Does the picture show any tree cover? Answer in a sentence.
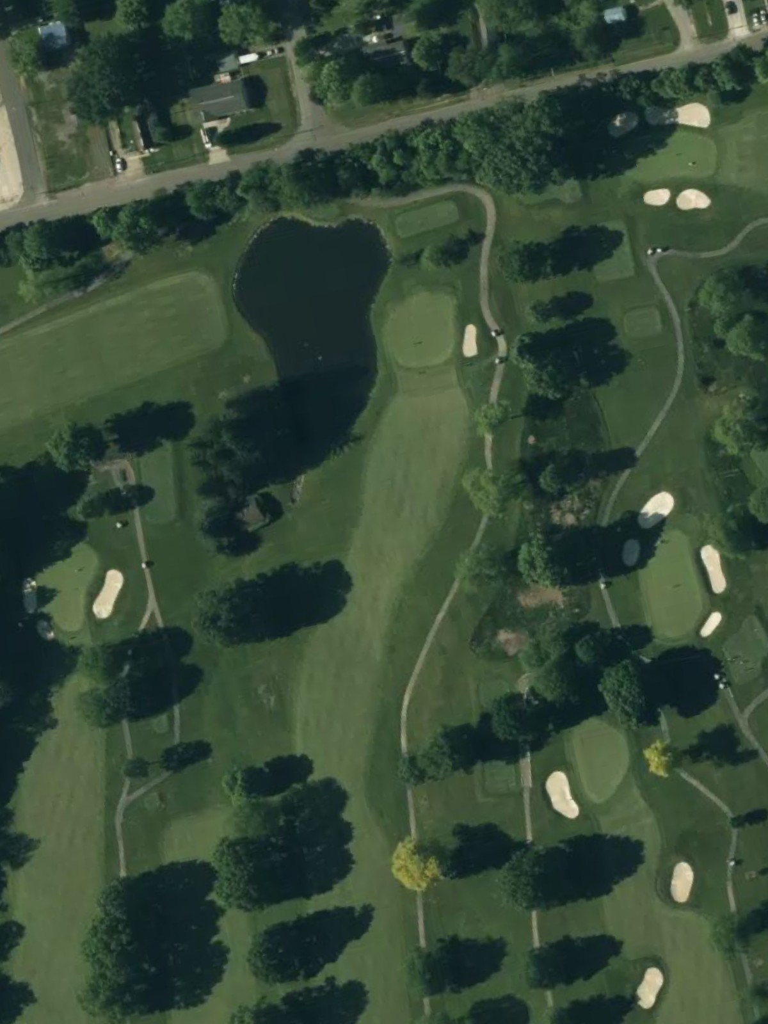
Yes, some tree cover is visible.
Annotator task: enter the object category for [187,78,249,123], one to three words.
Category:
house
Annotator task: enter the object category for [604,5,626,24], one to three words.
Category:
shed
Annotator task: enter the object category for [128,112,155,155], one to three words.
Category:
house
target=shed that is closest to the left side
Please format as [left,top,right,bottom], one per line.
[39,25,67,50]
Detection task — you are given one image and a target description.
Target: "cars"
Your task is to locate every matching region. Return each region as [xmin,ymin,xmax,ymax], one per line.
[752,14,758,26]
[267,48,279,55]
[760,10,766,22]
[116,158,122,170]
[728,1,735,14]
